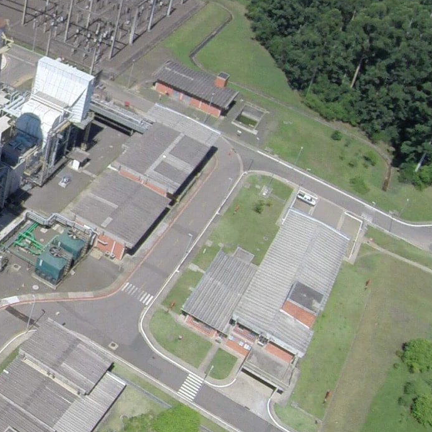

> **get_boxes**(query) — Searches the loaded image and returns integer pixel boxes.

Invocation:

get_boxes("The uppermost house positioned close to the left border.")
[18,55,99,141]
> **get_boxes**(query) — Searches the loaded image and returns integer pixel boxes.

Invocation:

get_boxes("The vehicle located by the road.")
[297,191,320,204]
